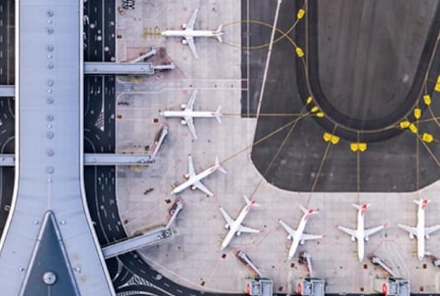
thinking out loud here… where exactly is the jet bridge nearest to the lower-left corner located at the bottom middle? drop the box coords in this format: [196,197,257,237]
[165,201,182,230]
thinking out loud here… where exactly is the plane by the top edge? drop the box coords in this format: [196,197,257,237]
[160,6,224,59]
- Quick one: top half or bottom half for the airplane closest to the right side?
bottom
